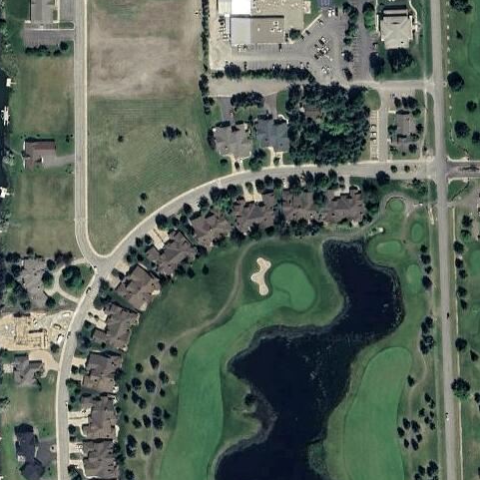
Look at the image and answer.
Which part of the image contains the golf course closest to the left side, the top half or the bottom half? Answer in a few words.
bottom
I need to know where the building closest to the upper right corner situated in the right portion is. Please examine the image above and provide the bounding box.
[381,8,412,50]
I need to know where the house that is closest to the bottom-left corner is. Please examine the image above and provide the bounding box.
[13,424,46,480]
